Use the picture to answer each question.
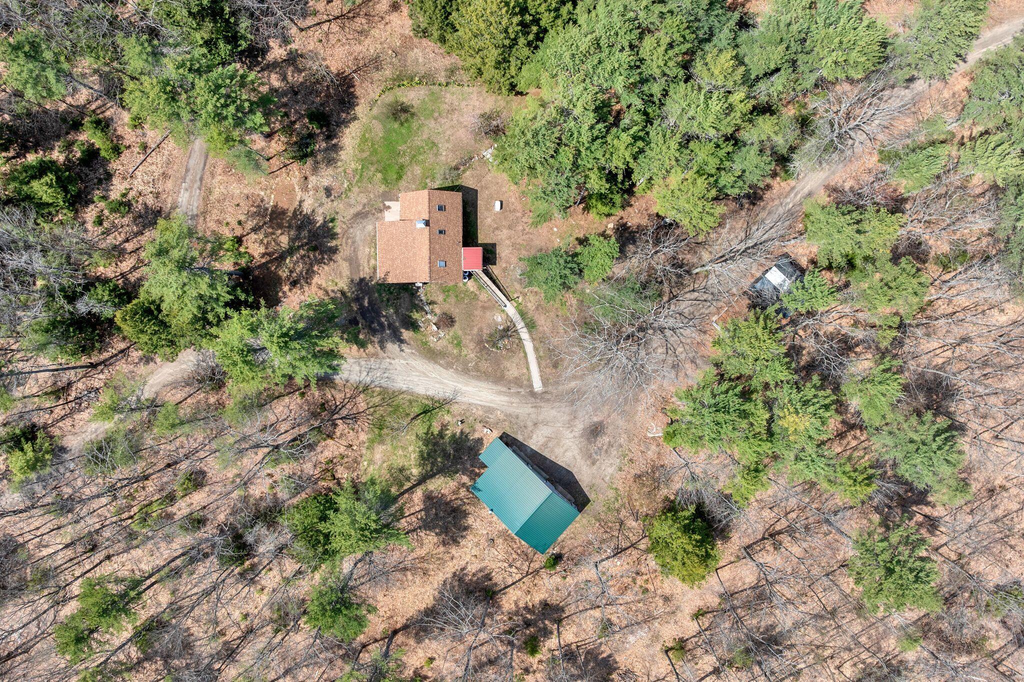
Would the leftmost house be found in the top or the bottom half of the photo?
top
